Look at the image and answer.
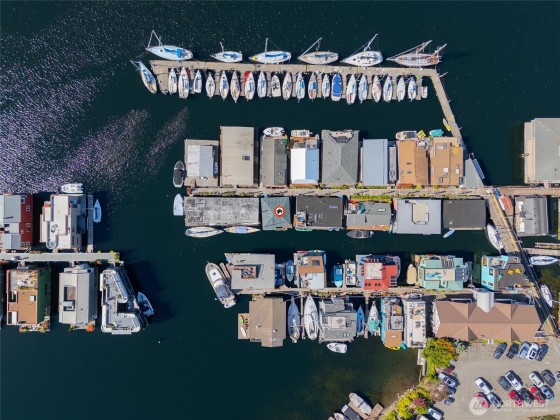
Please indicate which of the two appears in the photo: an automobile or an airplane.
automobile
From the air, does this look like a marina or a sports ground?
marina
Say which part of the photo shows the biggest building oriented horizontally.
bottom right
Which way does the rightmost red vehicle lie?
on a diagonal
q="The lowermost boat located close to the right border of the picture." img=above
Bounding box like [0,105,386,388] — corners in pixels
[540,284,560,310]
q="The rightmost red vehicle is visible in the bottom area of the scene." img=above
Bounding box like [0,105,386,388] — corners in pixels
[527,384,547,405]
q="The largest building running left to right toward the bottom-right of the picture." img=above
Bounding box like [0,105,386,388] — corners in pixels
[432,285,541,341]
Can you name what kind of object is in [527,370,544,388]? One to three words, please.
car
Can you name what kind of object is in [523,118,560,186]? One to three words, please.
building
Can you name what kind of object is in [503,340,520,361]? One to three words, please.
vehicle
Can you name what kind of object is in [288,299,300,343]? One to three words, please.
boat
